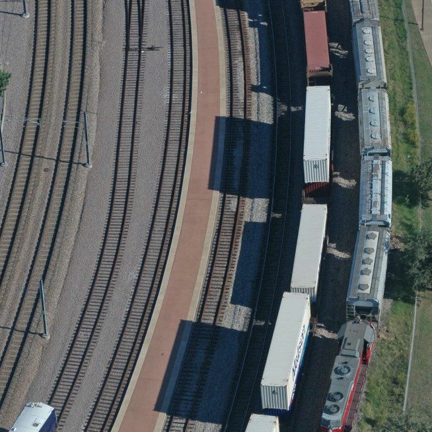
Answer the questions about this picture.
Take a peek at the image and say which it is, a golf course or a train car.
train car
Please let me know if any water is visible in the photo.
No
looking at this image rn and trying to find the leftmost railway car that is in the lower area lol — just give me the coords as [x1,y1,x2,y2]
[261,318,314,432]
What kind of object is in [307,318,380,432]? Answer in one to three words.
rail car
